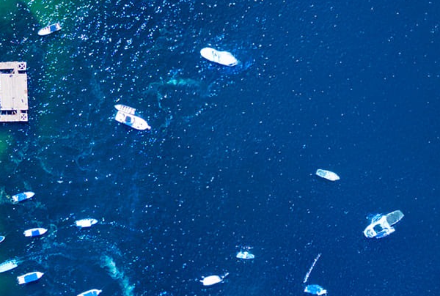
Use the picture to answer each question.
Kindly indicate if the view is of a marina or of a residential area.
marina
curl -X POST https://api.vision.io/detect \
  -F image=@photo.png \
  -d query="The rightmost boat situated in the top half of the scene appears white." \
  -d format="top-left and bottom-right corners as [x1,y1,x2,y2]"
[200,48,241,69]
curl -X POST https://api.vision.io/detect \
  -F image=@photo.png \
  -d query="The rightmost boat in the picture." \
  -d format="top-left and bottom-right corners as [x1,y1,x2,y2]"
[364,210,408,240]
